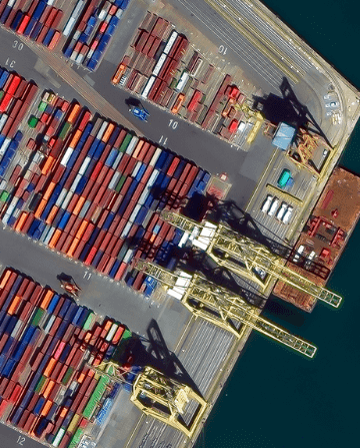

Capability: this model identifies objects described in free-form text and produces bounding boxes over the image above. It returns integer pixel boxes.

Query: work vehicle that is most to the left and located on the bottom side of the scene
[59,280,82,296]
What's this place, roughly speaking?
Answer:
port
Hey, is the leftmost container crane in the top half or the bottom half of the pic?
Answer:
bottom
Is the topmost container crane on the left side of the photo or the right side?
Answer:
right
